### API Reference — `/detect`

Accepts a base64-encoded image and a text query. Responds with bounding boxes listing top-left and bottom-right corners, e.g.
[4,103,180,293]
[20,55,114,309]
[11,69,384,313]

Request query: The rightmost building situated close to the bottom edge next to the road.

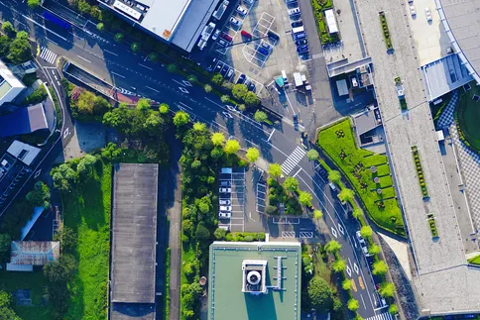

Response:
[209,230,301,320]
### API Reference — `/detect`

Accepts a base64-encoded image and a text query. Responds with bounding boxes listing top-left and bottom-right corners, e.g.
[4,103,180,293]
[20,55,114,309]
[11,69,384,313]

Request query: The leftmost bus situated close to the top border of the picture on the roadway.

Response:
[42,9,70,30]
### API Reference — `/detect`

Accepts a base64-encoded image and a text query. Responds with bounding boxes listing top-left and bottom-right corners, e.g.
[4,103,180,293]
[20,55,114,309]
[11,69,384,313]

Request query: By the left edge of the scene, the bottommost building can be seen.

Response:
[6,241,61,272]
